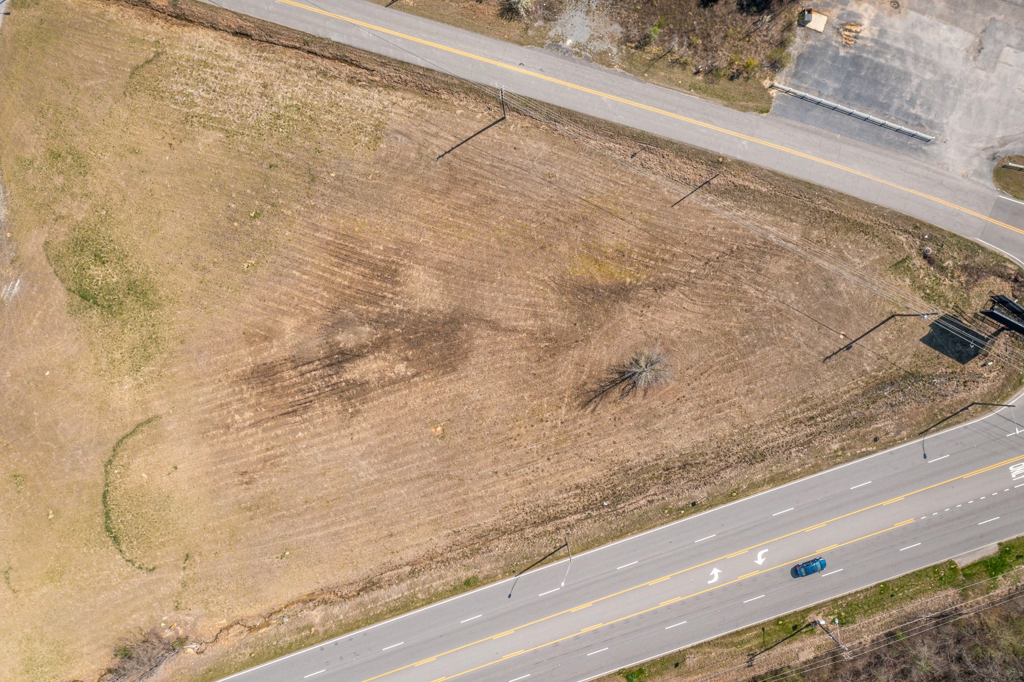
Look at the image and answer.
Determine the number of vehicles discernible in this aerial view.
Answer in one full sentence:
My tally gives 1 vehicle in this photo.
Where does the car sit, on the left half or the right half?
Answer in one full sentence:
It is on the right.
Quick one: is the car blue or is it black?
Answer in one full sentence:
In this view, the car is blue.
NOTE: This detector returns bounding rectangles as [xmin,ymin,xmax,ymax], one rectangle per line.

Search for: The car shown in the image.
[796,557,828,577]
